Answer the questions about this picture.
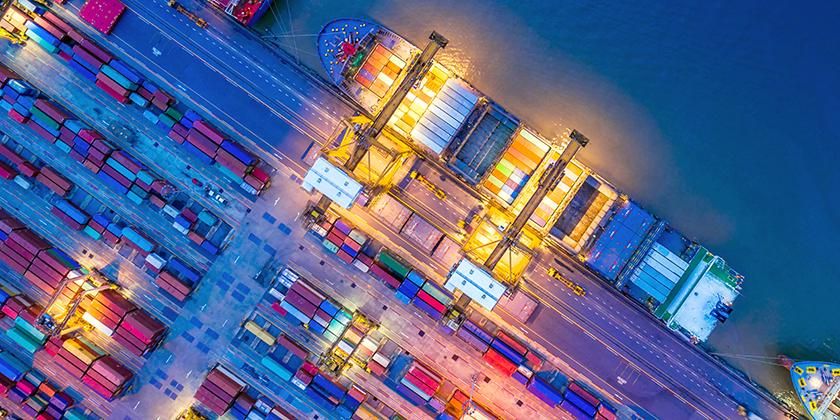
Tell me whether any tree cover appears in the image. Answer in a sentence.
No, the picture contains no tree cover.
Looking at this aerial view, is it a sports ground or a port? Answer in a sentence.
The area seen from above is a port.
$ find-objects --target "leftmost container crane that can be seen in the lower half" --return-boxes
[35,262,123,332]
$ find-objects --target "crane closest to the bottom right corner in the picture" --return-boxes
[439,129,590,331]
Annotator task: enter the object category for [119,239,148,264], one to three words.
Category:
shipping container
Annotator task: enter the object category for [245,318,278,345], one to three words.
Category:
shipping container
